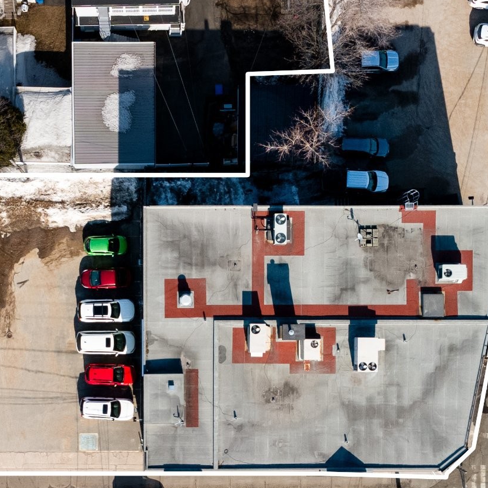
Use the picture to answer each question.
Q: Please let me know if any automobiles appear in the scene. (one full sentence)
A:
Yes, there is an automobile in the image.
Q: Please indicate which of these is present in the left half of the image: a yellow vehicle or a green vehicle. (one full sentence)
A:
The feature located in the left half of the image is a green vehicle.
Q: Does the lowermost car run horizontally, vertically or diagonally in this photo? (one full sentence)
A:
From this overhead view, the lowermost car appears to run horizontally.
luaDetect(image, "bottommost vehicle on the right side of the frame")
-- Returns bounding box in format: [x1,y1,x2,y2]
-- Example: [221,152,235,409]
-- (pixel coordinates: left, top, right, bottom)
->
[338,168,388,195]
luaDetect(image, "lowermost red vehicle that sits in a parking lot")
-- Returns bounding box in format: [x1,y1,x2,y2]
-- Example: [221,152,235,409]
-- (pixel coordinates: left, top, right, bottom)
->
[84,362,133,389]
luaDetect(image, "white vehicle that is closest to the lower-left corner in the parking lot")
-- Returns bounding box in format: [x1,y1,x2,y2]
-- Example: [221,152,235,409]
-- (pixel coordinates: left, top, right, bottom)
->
[80,396,135,422]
